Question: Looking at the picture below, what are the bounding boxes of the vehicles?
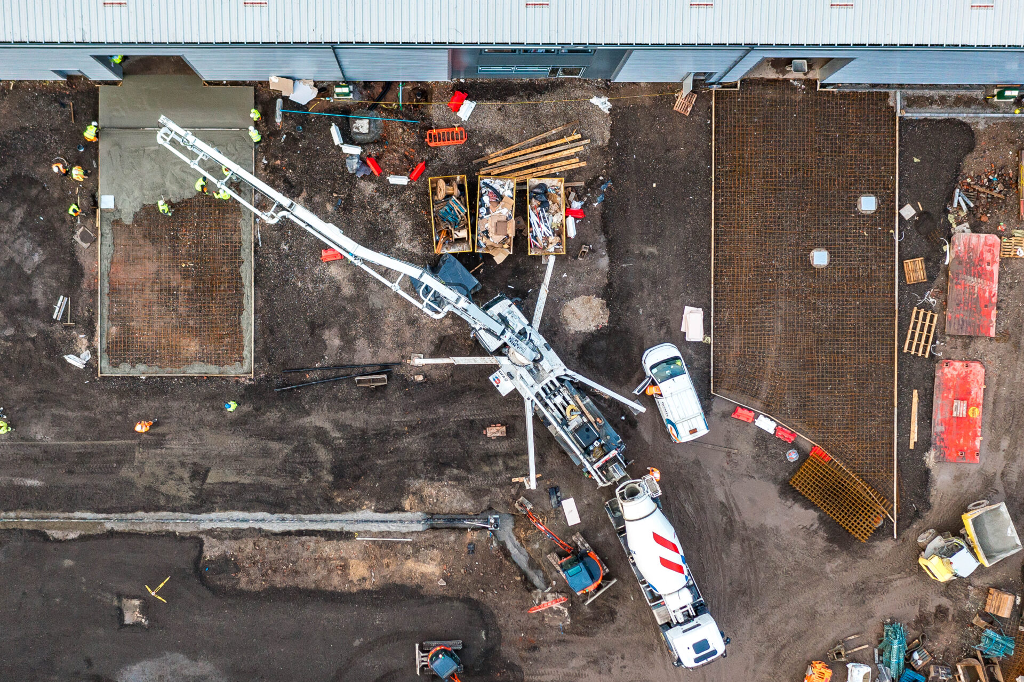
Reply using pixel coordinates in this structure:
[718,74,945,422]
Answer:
[415,637,460,682]
[911,495,1022,582]
[632,340,711,442]
[603,465,729,675]
[518,492,617,605]
[156,116,646,489]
